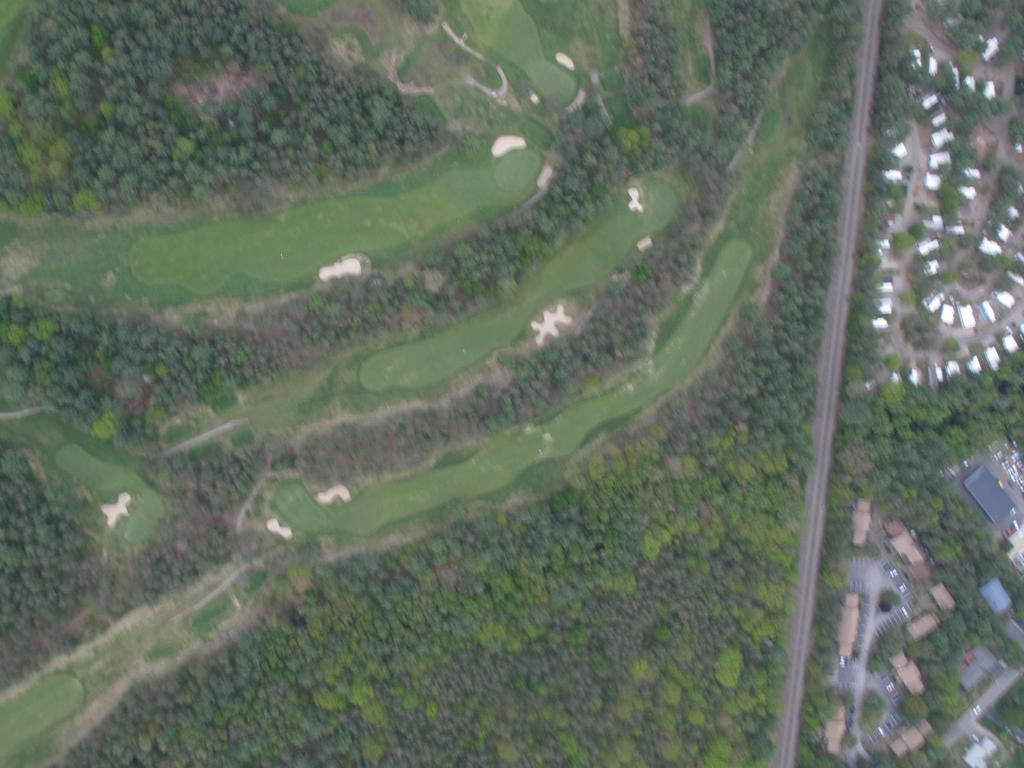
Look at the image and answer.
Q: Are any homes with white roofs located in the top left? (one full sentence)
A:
No, looking in the top left, there is no home with a white roof.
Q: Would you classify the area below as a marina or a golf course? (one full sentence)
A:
The area seen from above is a golf course.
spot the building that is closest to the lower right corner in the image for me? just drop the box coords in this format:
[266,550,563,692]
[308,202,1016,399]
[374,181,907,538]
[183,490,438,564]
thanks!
[958,735,998,768]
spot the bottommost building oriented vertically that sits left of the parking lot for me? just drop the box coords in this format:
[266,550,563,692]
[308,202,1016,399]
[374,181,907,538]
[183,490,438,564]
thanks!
[825,706,845,756]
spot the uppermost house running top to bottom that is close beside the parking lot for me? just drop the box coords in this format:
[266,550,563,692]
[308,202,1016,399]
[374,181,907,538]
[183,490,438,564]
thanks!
[849,500,870,544]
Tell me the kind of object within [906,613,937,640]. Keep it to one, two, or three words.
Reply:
house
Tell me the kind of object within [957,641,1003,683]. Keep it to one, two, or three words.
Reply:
house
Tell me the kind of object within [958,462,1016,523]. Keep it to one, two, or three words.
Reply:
building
